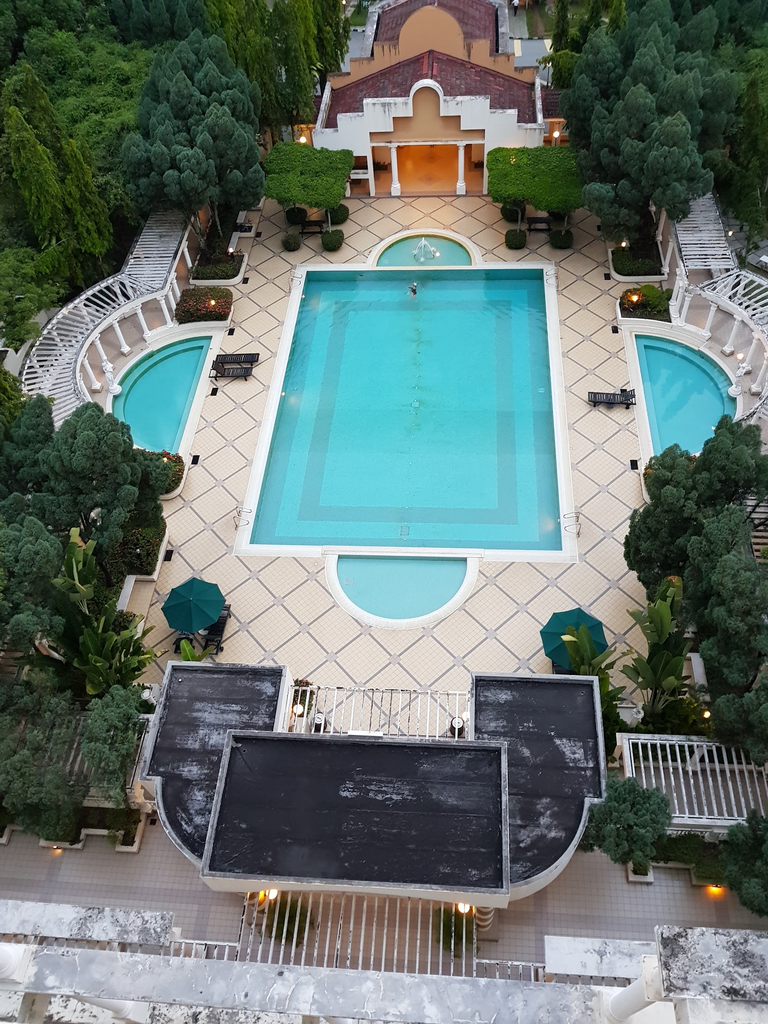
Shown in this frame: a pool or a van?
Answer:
pool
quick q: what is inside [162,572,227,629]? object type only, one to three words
umbrella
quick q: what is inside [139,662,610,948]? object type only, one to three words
building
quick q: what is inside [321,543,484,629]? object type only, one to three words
swimming pool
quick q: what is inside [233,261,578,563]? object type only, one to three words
swimming pool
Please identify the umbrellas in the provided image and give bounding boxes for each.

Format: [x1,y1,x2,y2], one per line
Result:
[538,605,605,667]
[162,572,227,629]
